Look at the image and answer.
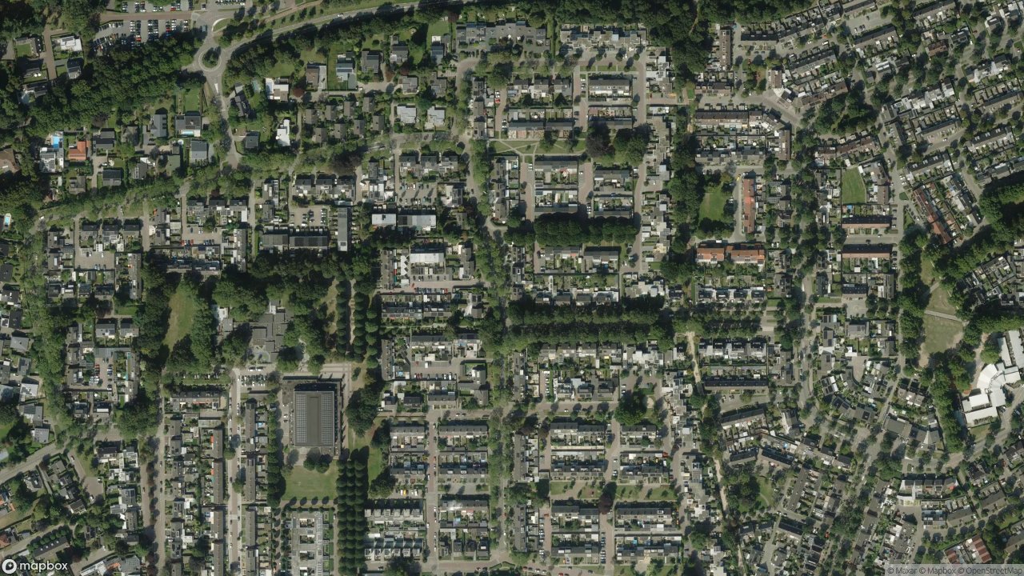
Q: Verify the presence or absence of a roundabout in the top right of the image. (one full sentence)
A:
No, I see no roundabout in the top right of the image.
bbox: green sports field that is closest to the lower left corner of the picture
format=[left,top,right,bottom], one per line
[284,468,336,500]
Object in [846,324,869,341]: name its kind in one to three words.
house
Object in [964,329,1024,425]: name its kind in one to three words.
building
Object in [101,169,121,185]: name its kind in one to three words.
house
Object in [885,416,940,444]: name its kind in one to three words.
building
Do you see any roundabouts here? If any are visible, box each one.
[190,40,229,79]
